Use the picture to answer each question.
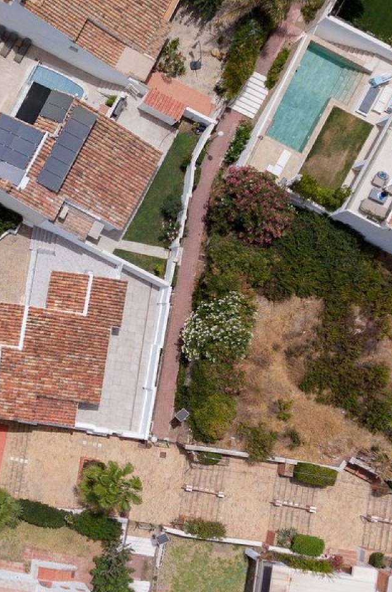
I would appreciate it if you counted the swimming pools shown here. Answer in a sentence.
The count of swimming pools comes to 2.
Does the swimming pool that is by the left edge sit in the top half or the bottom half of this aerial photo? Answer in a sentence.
The top half of the photo is where the swimming pool that is by the left edge is.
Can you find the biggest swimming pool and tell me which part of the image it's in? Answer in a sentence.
Look in the top right portion of the view to spot the biggest swimming pool.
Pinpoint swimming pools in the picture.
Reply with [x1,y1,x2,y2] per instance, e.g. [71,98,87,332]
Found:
[8,59,89,120]
[257,33,377,162]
